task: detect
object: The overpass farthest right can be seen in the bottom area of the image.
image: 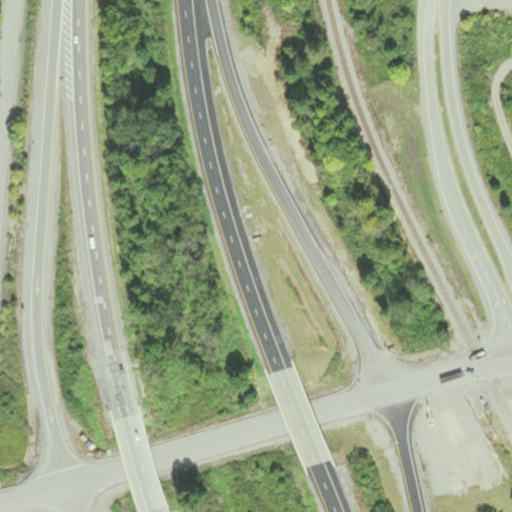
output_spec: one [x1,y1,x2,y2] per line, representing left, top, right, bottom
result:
[264,360,336,474]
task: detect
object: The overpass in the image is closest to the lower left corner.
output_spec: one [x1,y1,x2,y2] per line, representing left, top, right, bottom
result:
[110,406,168,512]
